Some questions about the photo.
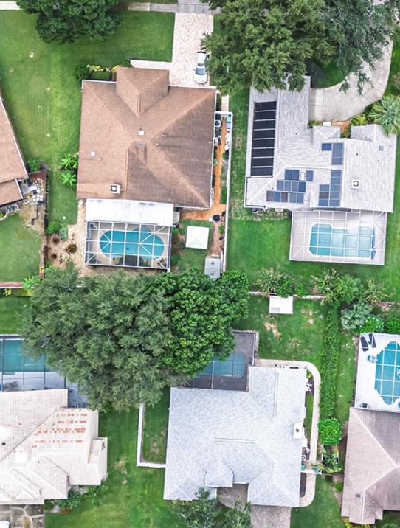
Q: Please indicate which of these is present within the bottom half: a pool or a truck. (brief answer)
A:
pool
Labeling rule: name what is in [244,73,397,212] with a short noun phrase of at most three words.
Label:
house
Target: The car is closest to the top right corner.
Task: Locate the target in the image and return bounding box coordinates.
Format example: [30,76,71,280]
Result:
[193,48,210,85]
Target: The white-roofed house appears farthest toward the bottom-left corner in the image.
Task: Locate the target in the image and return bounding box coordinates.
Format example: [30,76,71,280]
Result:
[0,389,111,505]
